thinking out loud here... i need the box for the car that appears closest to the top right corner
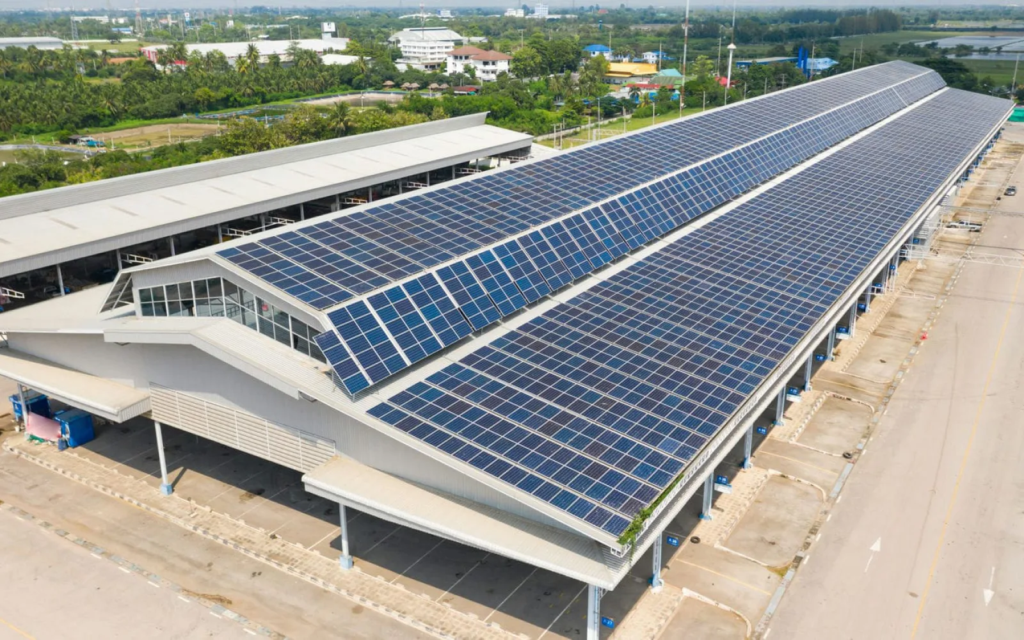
[1005,185,1021,198]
